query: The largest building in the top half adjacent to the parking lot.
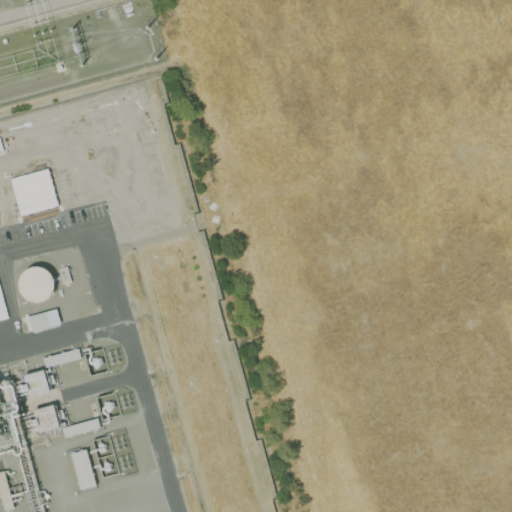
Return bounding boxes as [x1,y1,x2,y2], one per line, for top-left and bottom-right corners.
[12,164,60,221]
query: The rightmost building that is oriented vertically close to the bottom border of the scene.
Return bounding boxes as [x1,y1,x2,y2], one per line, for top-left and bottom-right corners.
[71,450,96,491]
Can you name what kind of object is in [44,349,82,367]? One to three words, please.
building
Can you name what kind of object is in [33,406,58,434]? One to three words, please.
building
